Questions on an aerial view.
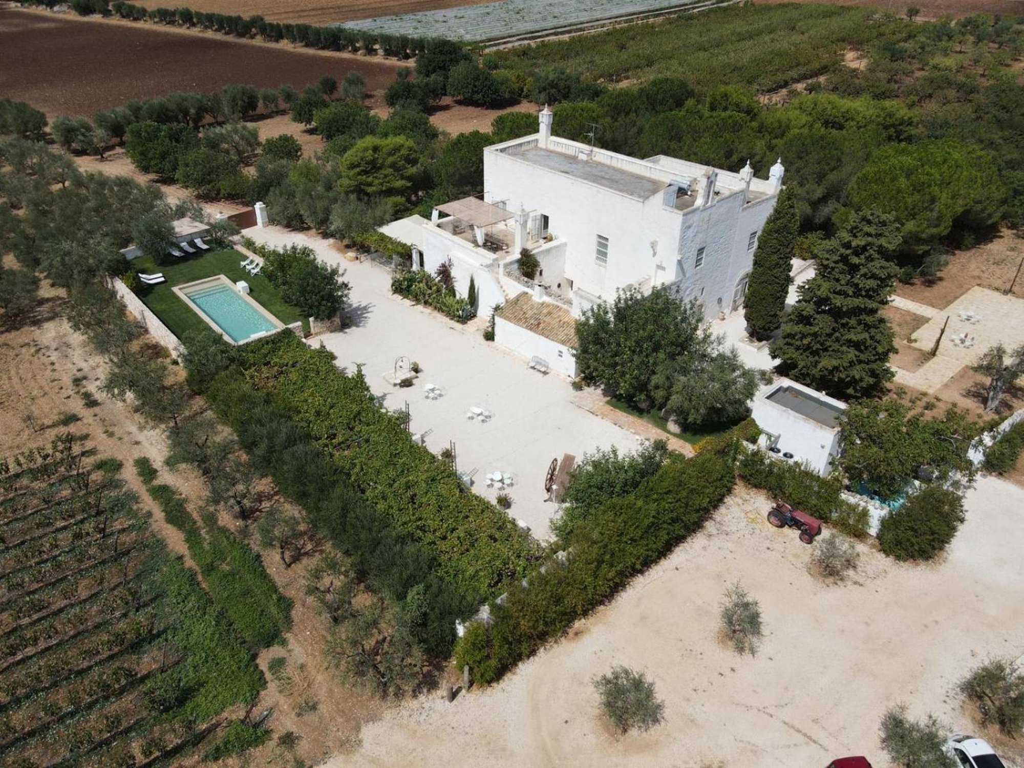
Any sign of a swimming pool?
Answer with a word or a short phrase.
Yes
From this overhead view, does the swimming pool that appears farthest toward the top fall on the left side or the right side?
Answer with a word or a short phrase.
left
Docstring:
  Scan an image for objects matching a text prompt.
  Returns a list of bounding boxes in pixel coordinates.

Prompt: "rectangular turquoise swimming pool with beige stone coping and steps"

[172,274,287,341]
